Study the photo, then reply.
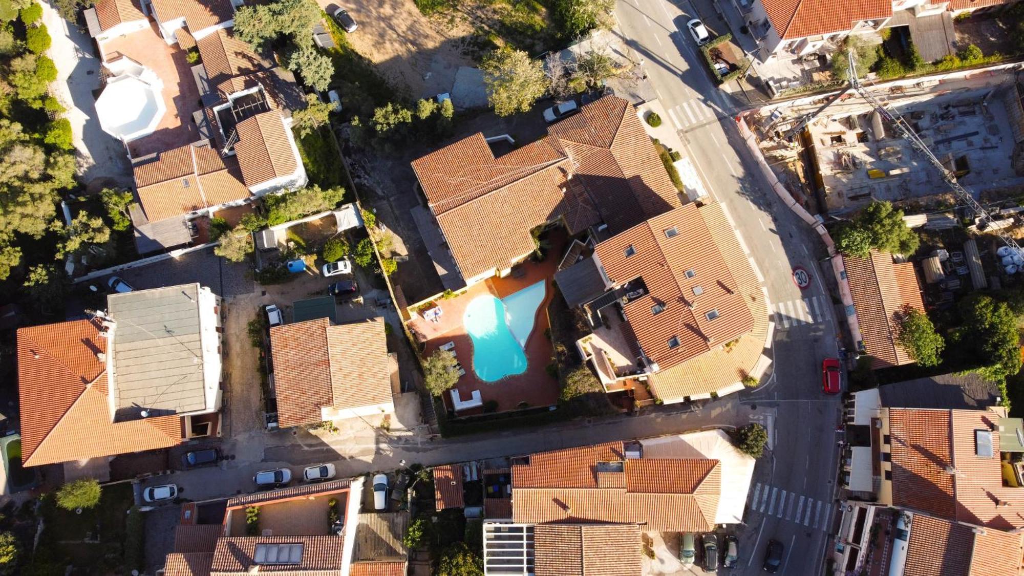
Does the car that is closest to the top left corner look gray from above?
No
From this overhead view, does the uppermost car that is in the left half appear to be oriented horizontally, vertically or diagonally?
diagonally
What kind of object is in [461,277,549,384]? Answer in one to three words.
swimming pool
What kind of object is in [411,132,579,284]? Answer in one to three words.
house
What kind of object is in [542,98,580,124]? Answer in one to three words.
car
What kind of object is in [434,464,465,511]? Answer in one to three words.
building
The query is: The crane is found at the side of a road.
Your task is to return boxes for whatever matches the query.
[765,53,1024,265]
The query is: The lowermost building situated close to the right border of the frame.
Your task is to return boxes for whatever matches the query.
[885,511,1022,576]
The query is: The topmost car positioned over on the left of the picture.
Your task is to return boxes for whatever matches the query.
[331,6,360,37]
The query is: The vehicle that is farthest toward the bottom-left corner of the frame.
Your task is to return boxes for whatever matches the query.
[143,483,179,503]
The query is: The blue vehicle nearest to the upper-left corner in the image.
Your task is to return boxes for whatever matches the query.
[104,273,140,293]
